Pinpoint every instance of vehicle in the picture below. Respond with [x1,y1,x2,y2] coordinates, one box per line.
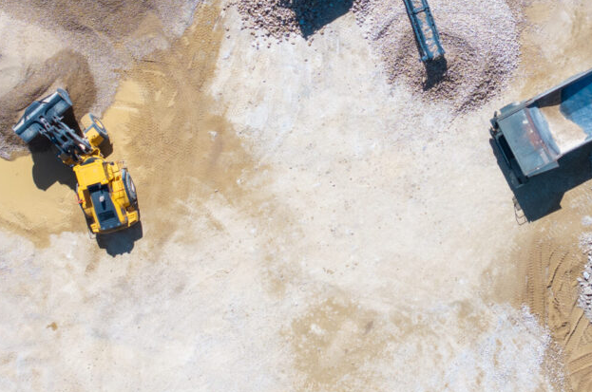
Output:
[16,87,140,239]
[492,69,592,177]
